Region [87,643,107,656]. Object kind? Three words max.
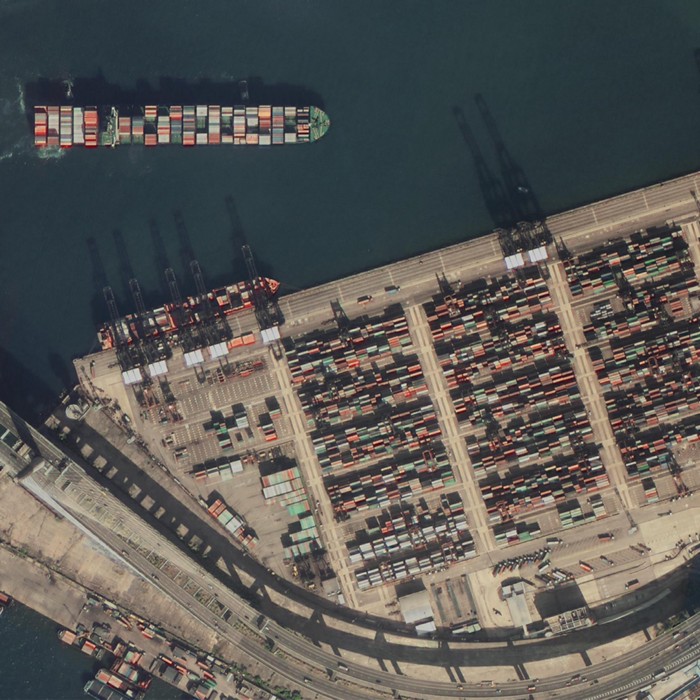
ship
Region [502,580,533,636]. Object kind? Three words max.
building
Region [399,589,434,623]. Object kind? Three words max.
building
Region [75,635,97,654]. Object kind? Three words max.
ship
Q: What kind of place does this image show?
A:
port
